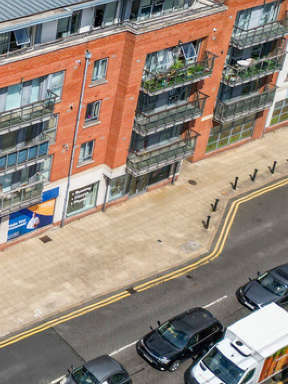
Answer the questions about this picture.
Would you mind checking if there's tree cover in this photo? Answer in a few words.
No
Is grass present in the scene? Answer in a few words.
No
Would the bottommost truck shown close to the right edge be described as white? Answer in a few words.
Yes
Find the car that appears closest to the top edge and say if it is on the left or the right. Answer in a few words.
right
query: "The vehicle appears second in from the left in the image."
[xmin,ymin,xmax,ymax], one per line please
[133,298,225,370]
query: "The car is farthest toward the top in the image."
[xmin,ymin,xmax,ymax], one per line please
[234,256,288,309]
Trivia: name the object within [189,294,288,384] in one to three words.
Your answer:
truck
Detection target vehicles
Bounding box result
[133,298,225,370]
[189,294,288,384]
[234,256,288,309]
[62,347,145,384]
